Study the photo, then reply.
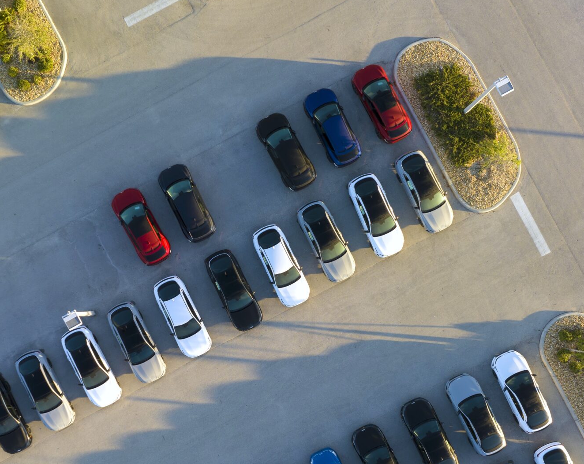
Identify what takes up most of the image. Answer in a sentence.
For the most part, this view shows paved ground.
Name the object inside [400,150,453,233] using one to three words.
car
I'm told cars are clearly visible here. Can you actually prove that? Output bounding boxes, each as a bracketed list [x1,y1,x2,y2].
[350,174,401,256]
[62,326,115,409]
[534,441,572,464]
[0,376,31,456]
[18,349,69,432]
[255,224,305,306]
[495,350,552,433]
[311,446,344,464]
[355,423,399,464]
[154,276,207,357]
[109,302,163,384]
[400,150,453,233]
[405,397,457,464]
[300,199,353,282]
[207,249,259,331]
[450,373,506,456]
